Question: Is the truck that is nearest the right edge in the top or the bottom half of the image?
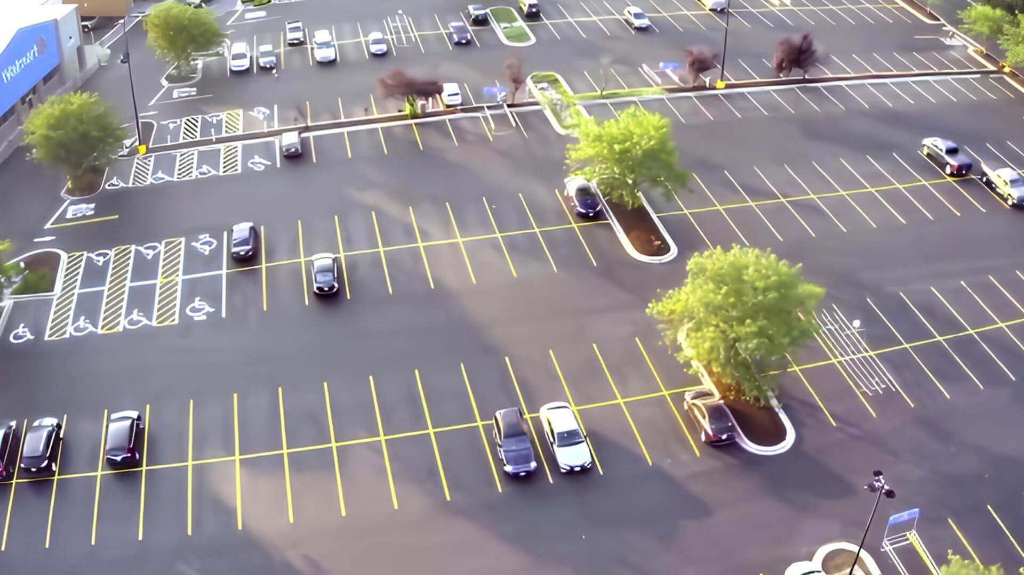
top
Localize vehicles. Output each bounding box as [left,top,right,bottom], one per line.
[284,18,305,45]
[20,413,62,472]
[973,162,1024,206]
[0,424,15,480]
[563,177,599,215]
[79,23,94,39]
[489,406,535,475]
[104,408,141,466]
[438,74,462,106]
[277,125,302,156]
[255,43,276,68]
[366,32,386,55]
[684,389,734,444]
[227,221,256,260]
[310,250,339,293]
[447,20,470,44]
[227,37,251,71]
[623,6,650,29]
[920,136,972,176]
[700,0,724,10]
[770,0,789,5]
[311,29,336,62]
[542,406,592,473]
